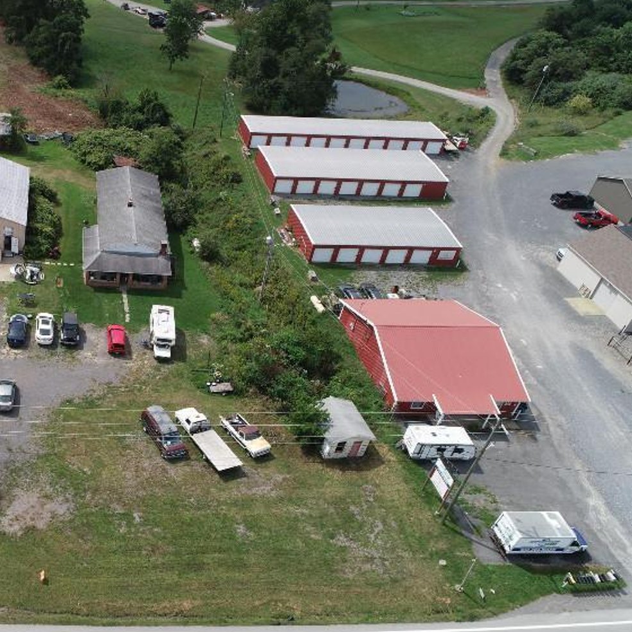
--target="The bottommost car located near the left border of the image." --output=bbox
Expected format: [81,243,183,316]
[0,376,18,410]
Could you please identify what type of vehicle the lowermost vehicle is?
truck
